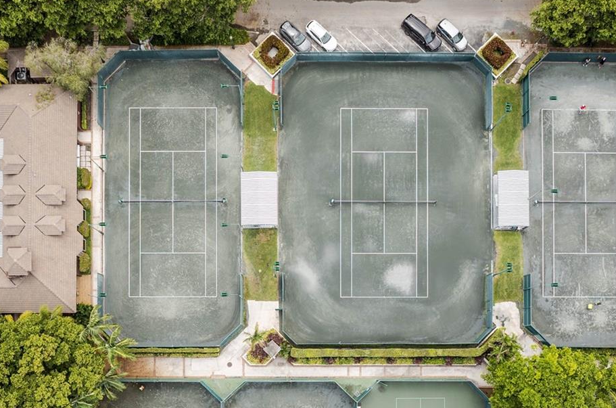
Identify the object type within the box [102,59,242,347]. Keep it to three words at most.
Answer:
tennis court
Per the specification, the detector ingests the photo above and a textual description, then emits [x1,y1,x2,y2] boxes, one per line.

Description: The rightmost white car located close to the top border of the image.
[438,18,469,52]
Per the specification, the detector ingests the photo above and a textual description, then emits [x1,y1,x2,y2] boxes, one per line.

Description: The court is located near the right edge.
[521,62,616,347]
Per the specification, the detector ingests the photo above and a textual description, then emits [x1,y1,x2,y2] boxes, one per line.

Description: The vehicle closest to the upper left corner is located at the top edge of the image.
[280,19,312,53]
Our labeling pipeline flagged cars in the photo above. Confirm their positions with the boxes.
[280,19,312,53]
[306,18,337,52]
[438,18,469,52]
[406,15,443,52]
